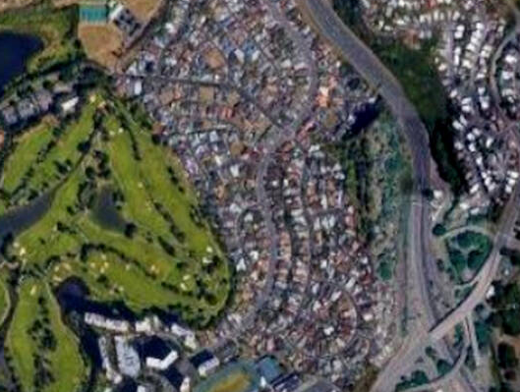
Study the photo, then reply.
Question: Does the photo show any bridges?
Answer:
Yes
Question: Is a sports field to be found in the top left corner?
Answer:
Yes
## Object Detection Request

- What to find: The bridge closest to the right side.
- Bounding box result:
[413,248,505,353]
